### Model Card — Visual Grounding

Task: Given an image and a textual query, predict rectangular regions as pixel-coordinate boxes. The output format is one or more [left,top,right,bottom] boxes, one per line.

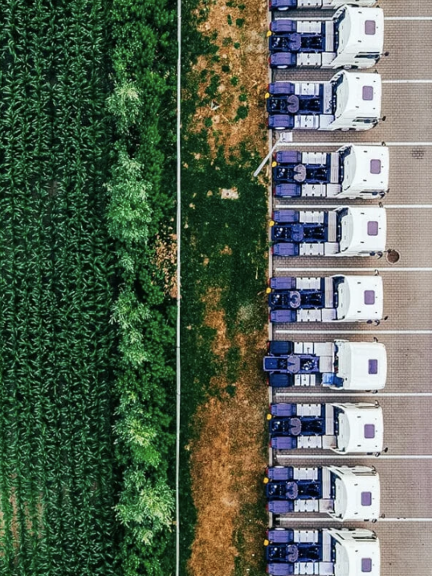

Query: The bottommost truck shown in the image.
[262,525,379,576]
